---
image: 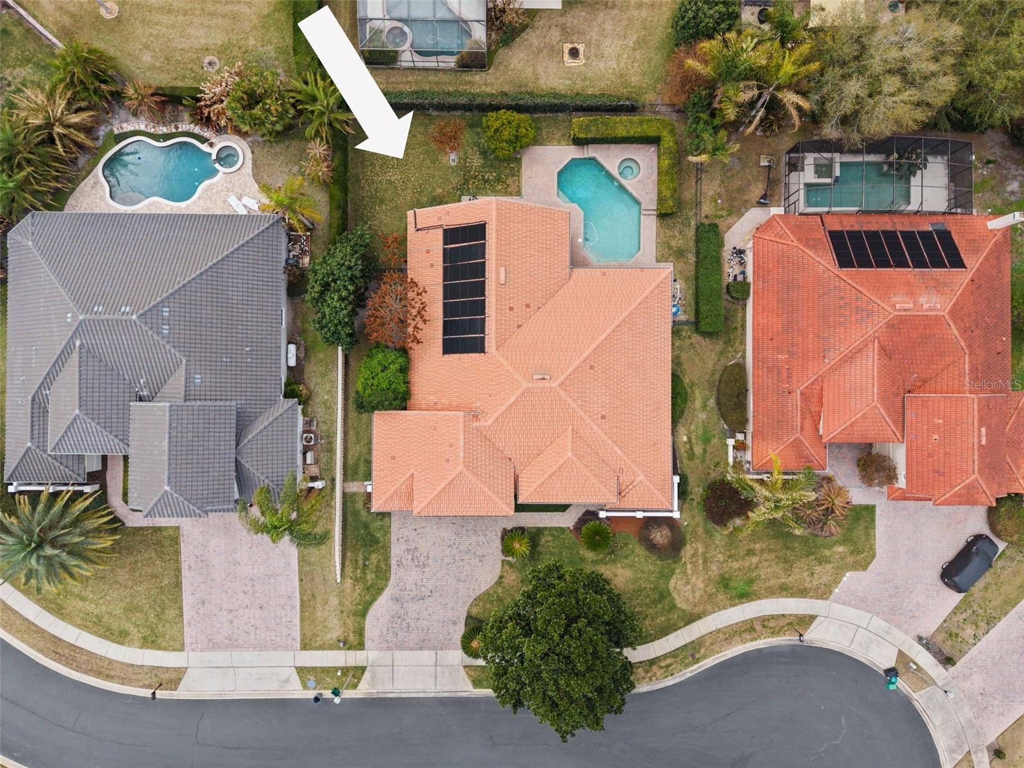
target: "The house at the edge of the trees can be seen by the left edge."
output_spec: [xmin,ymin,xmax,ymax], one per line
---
[1,210,301,520]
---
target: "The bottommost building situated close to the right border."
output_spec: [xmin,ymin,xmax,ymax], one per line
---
[747,204,1024,508]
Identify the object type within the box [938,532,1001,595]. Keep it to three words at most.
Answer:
car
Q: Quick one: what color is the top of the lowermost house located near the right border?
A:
red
